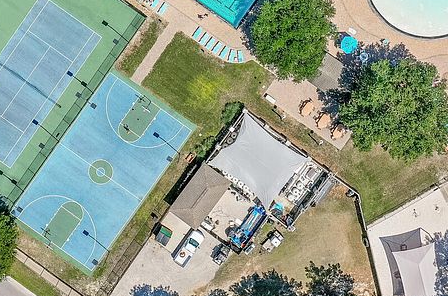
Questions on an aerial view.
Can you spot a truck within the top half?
No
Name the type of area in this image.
sports ground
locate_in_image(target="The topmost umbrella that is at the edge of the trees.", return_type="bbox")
[341,37,358,52]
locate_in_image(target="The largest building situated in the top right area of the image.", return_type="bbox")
[307,52,346,92]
